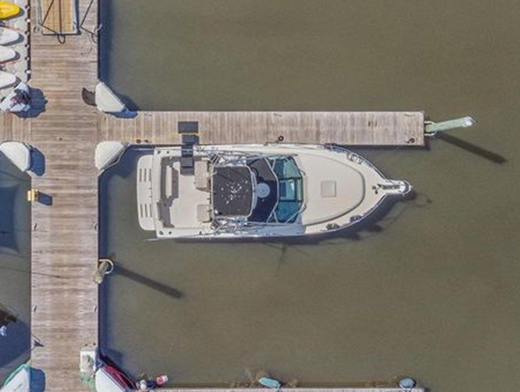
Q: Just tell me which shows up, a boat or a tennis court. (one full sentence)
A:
Of the two, only a boat appears.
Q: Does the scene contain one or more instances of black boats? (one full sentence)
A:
Yes, a black boat is visible in the scene.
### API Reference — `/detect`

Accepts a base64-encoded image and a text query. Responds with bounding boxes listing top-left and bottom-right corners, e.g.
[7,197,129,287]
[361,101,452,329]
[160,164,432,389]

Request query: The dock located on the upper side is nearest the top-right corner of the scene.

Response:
[99,111,438,146]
